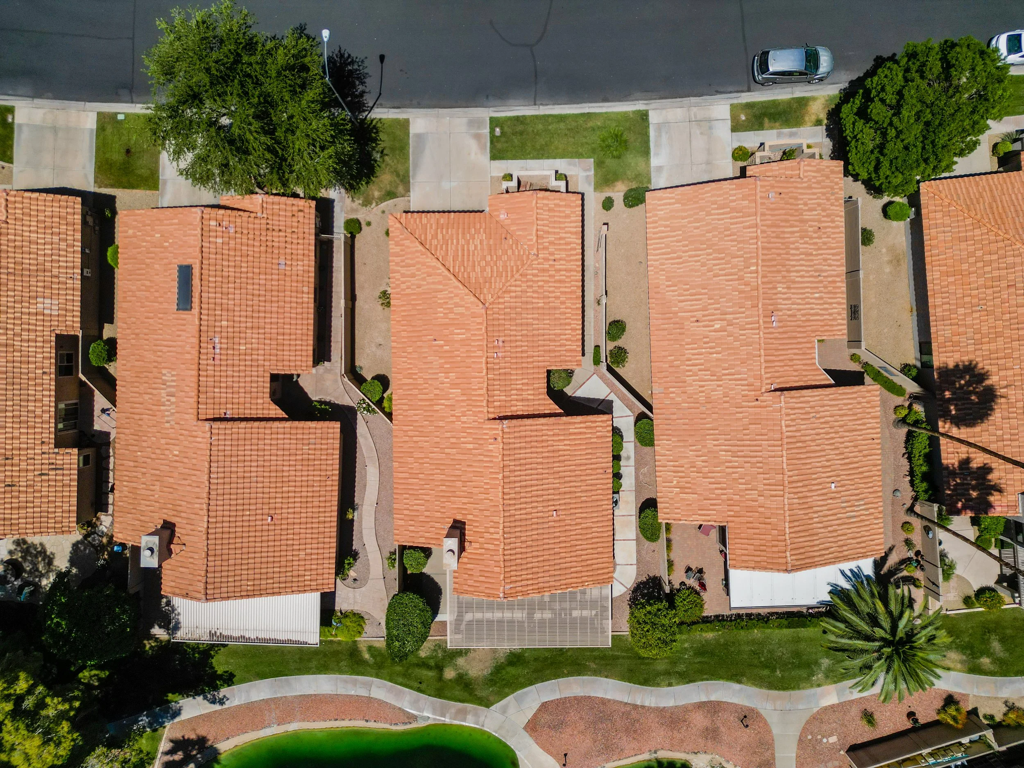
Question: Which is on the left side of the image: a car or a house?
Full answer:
Looking on the left side of the image, you will find a house.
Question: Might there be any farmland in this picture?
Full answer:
No, there is no farmland in the image.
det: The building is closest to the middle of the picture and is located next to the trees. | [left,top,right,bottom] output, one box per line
[387,188,614,601]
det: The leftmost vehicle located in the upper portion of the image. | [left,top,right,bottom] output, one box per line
[749,40,836,87]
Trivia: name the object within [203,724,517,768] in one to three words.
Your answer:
pond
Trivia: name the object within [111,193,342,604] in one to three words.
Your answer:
house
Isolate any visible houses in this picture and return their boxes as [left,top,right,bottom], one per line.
[908,175,1024,519]
[387,188,614,601]
[111,193,342,604]
[647,156,884,571]
[0,189,103,541]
